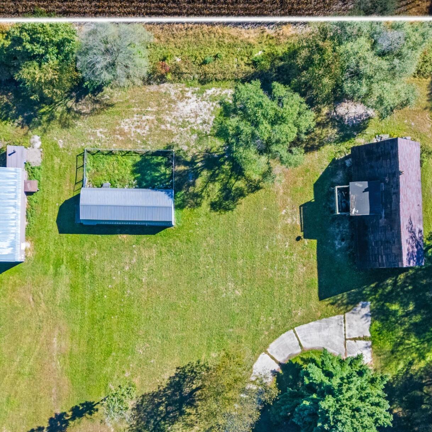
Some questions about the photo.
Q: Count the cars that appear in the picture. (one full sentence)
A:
The picture shows no cars.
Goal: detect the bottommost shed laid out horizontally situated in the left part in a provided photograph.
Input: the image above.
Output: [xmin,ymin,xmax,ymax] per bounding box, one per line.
[79,188,175,228]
